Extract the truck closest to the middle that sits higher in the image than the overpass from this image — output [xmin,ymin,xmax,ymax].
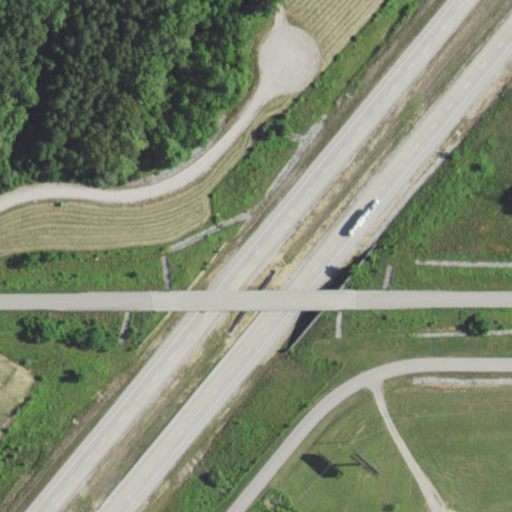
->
[350,200,380,236]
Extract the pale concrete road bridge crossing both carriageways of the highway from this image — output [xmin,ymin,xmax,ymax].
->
[137,239,384,354]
